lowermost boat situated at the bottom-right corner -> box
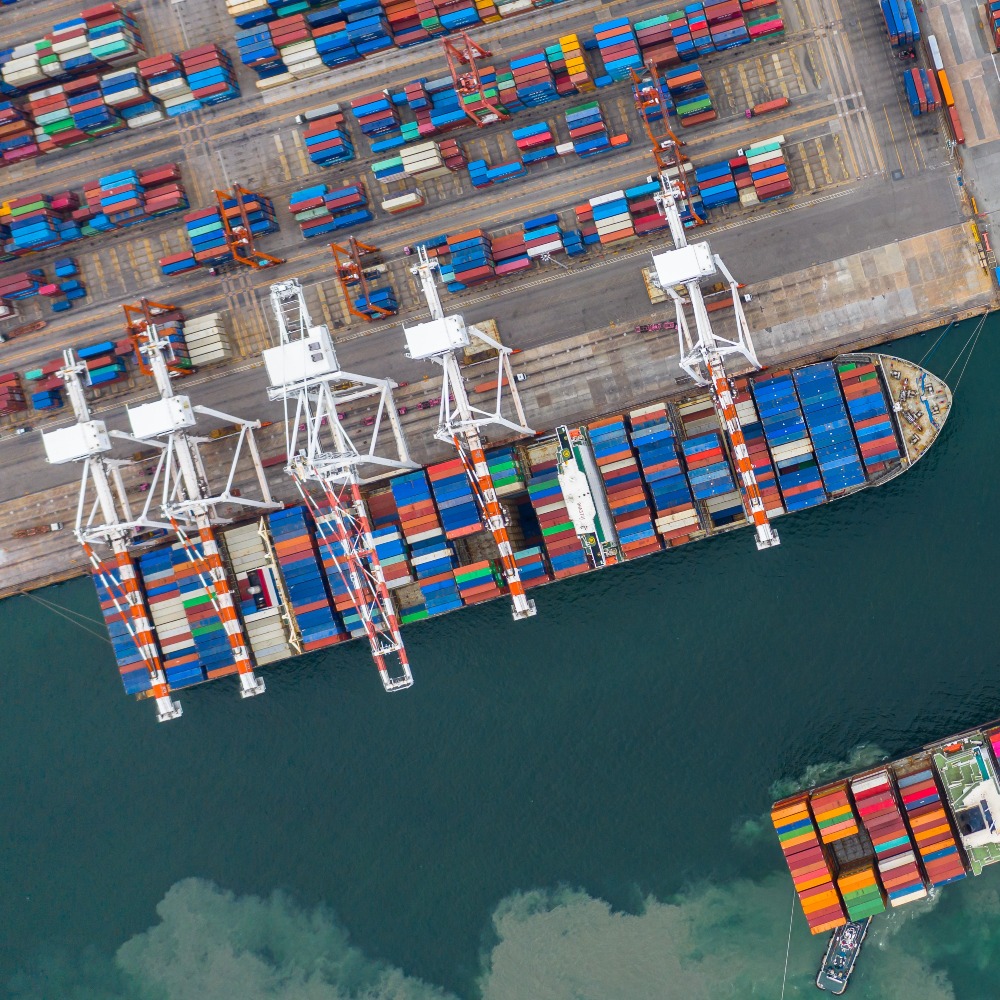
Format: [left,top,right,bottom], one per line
[818,914,872,996]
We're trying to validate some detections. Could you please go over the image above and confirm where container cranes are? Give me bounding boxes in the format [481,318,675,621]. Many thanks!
[254,279,433,693]
[625,57,688,152]
[401,245,550,619]
[438,30,495,122]
[650,174,778,549]
[125,323,298,698]
[205,180,287,270]
[42,348,221,722]
[646,139,709,229]
[322,233,399,321]
[112,295,185,377]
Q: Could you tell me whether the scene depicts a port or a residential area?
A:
port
